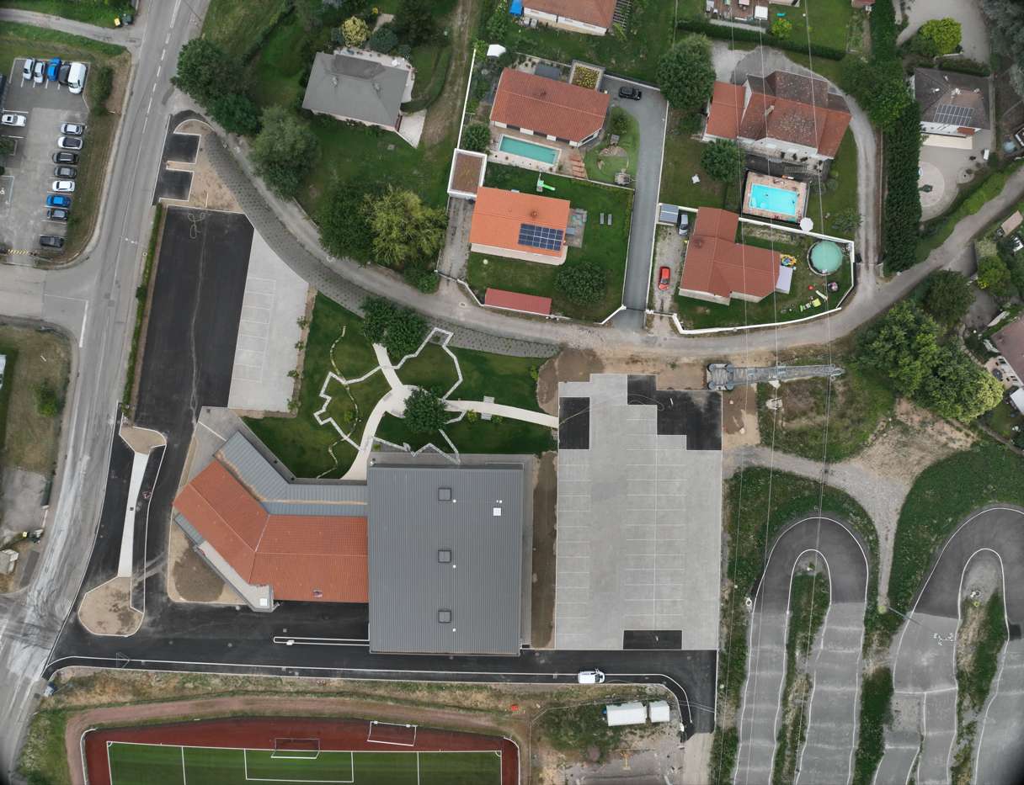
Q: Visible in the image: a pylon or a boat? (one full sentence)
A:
This aerial view contains a pylon.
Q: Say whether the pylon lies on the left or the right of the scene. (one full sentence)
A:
The pylon is on the right side of the image.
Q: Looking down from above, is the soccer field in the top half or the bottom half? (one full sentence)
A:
The bottom half of the photo is where the soccer field is.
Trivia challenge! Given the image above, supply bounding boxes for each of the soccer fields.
[86,718,519,785]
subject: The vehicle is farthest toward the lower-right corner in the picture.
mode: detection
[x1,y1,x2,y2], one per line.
[578,667,605,686]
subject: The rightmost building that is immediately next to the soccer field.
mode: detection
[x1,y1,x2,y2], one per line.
[367,460,526,657]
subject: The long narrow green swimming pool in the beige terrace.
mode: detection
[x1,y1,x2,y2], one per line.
[498,133,561,166]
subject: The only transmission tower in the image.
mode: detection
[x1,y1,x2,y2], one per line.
[708,355,848,389]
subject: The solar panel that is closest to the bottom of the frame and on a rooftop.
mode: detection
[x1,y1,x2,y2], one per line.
[518,223,563,250]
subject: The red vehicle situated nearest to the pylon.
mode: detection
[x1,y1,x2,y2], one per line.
[658,266,671,290]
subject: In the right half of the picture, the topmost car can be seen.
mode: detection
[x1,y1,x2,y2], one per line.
[618,84,641,101]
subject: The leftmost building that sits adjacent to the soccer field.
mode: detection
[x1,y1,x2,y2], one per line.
[173,431,369,612]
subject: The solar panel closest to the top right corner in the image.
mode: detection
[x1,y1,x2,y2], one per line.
[936,104,974,126]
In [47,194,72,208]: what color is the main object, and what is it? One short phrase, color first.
blue car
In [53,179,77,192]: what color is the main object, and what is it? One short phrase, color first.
white vehicle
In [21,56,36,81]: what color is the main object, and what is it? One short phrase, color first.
white car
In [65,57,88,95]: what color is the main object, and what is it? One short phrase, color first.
white vehicle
